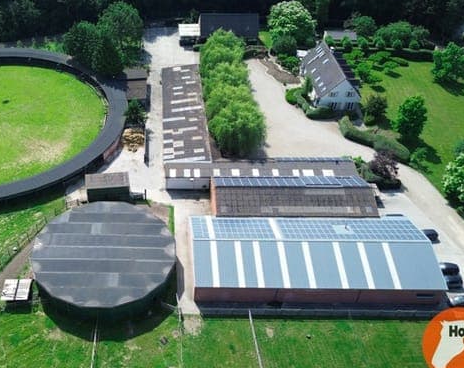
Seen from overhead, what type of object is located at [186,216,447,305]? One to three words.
barn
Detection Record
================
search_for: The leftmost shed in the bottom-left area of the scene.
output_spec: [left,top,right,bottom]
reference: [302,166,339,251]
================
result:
[2,278,32,309]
